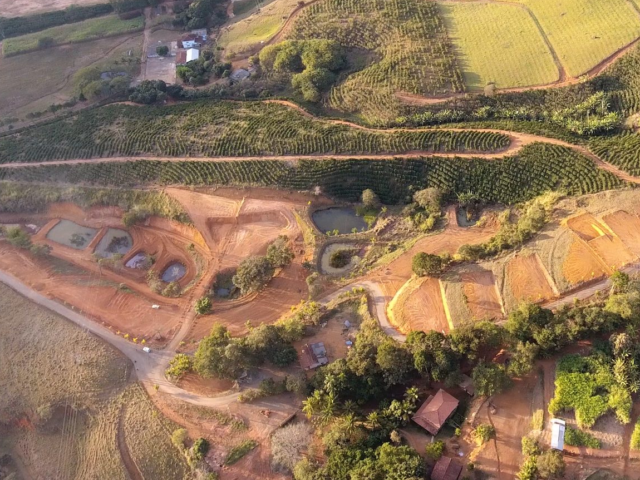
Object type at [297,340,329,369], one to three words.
house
